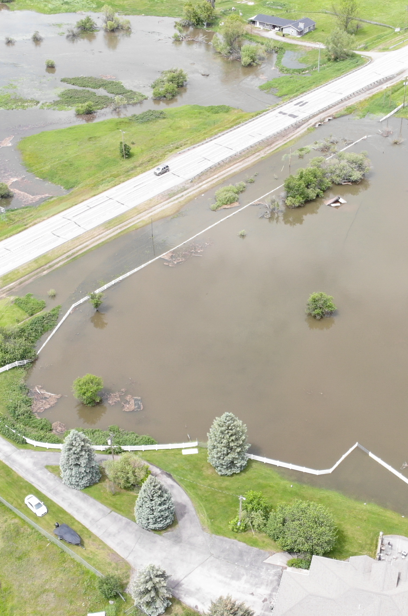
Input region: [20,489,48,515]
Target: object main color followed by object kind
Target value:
white car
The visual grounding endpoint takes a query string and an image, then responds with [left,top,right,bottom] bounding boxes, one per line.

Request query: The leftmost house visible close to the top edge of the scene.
[246,14,317,38]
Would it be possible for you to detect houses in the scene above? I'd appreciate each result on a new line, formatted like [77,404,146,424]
[246,14,317,38]
[272,556,408,616]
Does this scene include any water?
Yes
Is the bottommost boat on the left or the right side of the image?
left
